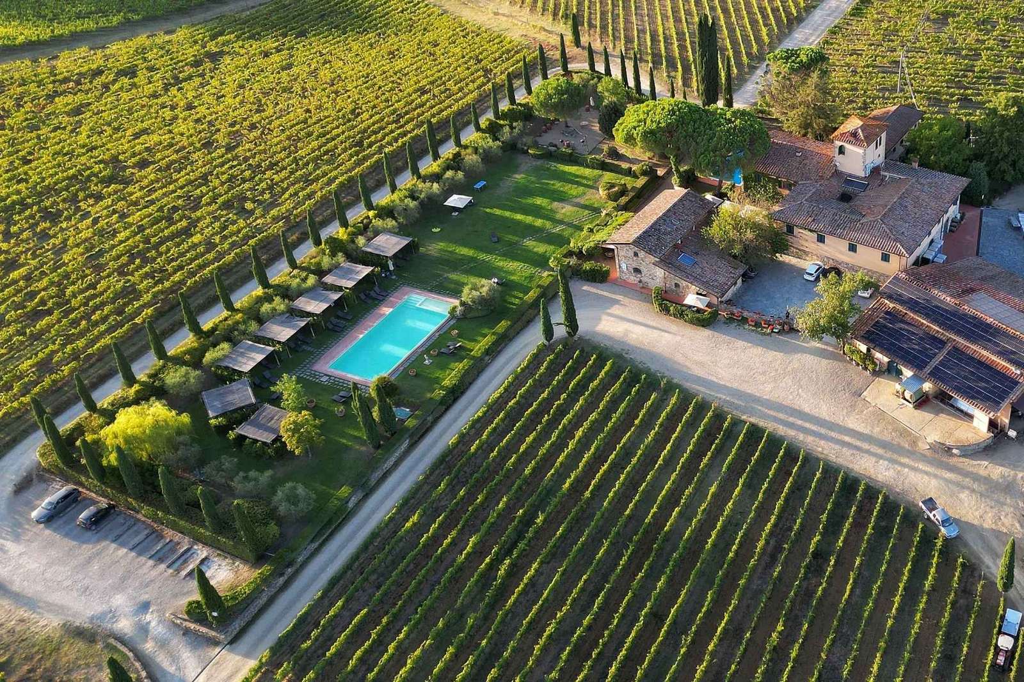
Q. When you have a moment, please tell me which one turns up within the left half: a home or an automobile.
automobile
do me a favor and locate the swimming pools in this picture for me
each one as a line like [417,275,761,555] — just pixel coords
[309,286,459,386]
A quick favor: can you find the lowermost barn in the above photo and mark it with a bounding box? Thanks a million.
[853,246,1024,421]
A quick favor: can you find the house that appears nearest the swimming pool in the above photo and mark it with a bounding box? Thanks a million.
[598,188,748,303]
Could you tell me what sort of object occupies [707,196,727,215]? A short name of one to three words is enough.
umbrella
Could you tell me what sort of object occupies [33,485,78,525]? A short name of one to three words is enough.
car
